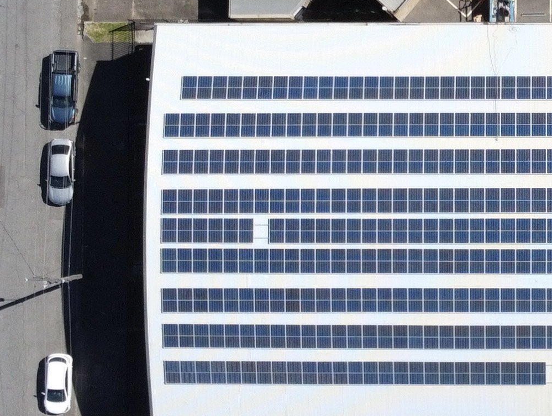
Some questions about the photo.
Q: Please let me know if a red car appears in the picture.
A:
No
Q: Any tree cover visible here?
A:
No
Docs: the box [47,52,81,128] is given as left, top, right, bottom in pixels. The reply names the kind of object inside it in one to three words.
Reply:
truck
